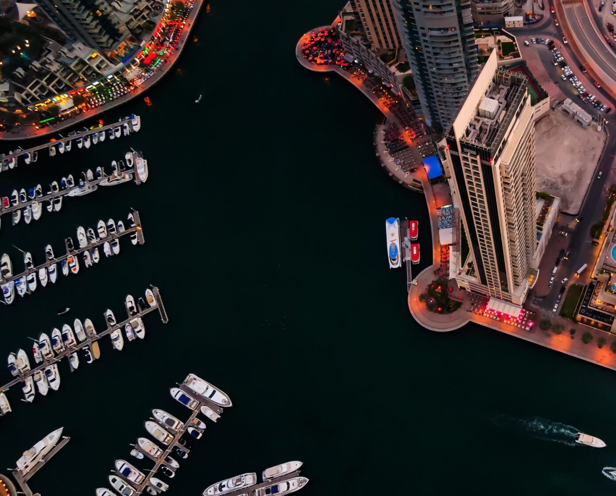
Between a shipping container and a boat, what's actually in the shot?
boat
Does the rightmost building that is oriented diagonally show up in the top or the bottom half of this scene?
top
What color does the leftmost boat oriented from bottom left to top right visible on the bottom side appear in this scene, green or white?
white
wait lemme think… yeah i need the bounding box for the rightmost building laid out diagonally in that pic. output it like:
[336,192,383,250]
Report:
[563,97,594,127]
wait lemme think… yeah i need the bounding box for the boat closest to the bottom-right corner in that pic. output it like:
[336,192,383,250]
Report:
[575,434,605,446]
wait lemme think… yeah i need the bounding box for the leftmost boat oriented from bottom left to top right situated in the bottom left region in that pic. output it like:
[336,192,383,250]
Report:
[13,426,63,474]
